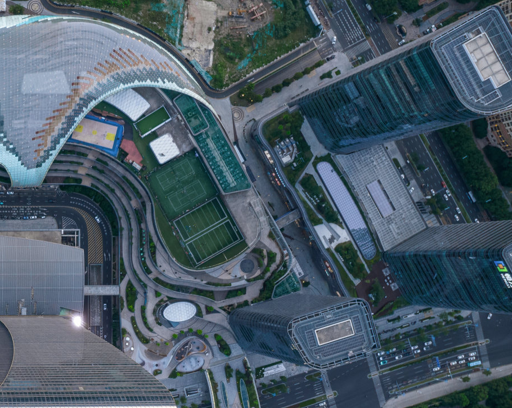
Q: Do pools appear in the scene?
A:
No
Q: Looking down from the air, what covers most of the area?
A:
buildings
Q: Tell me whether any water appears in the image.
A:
No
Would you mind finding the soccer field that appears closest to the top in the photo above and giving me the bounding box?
[172,197,227,241]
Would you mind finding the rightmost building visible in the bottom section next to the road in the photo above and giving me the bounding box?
[385,205,512,314]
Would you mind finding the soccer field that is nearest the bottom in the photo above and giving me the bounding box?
[186,220,240,265]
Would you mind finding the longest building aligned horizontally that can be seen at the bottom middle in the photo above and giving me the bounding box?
[231,296,383,369]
